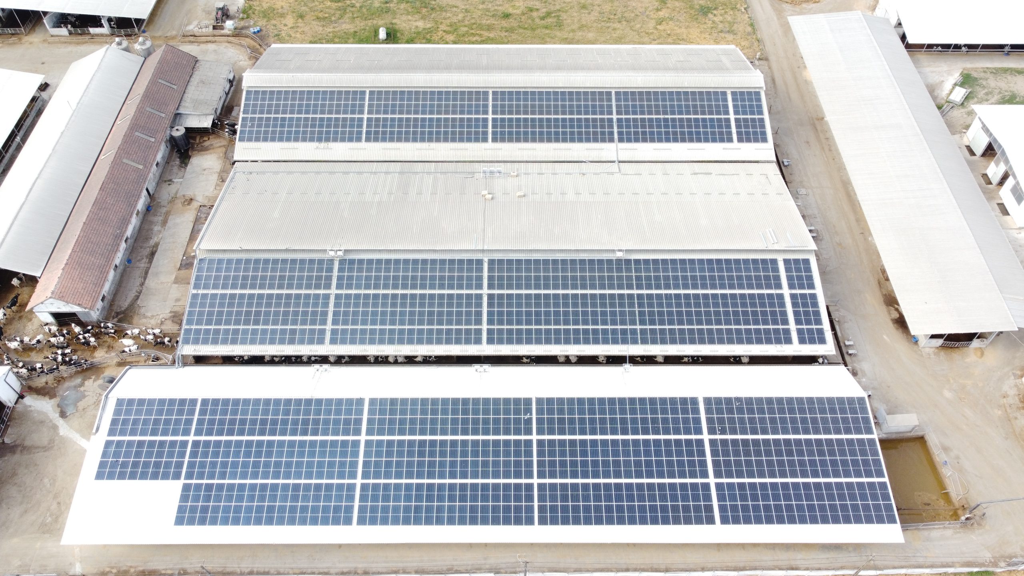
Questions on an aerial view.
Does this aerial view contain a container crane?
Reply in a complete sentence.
No, I can't see a single container crane in this photo.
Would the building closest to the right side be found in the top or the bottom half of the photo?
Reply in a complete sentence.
You can find the building closest to the right side in the top half.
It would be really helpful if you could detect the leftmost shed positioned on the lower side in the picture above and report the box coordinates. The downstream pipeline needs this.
[0,365,28,414]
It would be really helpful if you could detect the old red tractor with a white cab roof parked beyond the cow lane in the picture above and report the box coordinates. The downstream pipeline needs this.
[214,3,230,25]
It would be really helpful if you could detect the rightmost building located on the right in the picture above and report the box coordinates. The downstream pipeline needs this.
[965,105,1024,229]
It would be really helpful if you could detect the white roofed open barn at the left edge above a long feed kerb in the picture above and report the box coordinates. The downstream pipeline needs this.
[0,68,52,182]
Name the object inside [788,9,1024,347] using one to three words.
barn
